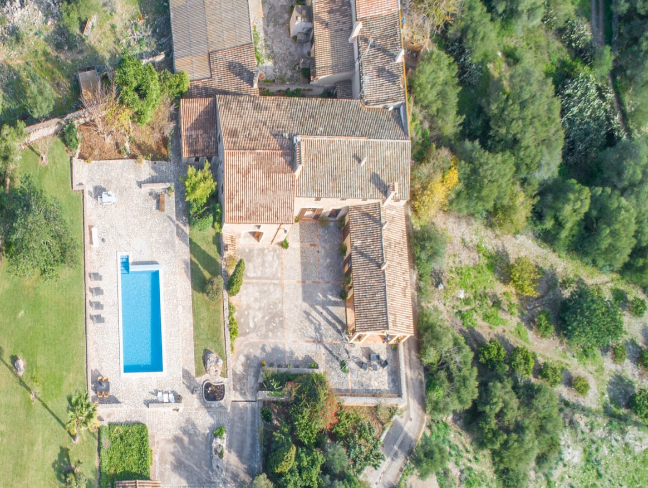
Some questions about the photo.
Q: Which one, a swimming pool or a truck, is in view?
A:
swimming pool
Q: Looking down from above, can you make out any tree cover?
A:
Yes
